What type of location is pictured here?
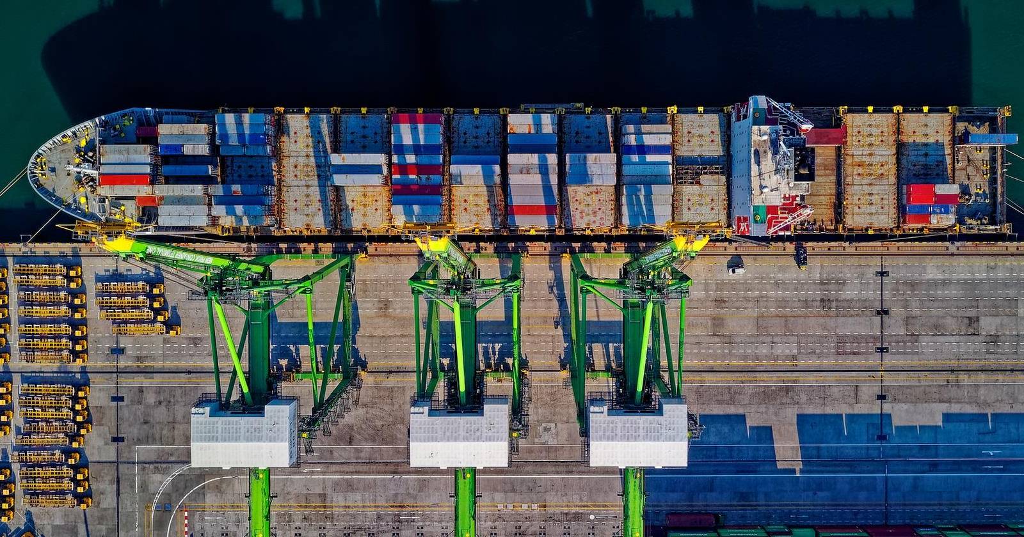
port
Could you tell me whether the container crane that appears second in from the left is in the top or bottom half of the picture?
bottom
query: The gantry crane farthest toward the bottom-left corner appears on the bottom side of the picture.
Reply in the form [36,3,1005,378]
[50,217,368,537]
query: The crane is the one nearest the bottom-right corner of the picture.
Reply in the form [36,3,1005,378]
[558,216,751,537]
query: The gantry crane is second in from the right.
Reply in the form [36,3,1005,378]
[380,216,535,537]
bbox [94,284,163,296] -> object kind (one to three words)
vehicle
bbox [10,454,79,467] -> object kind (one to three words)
vehicle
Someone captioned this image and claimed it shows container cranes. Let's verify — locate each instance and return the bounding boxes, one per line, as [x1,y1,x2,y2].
[558,216,751,537]
[50,217,368,537]
[380,216,535,537]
